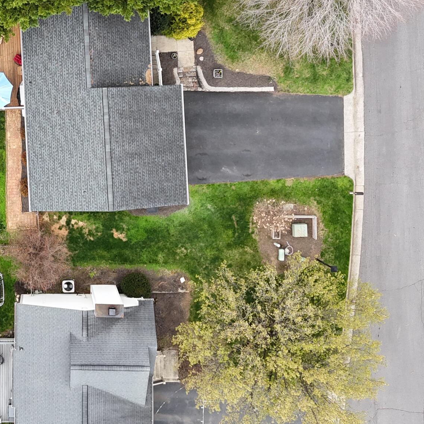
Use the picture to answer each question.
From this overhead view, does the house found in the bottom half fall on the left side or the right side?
left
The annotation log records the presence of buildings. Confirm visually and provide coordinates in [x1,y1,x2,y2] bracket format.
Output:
[10,283,157,424]
[18,0,190,213]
